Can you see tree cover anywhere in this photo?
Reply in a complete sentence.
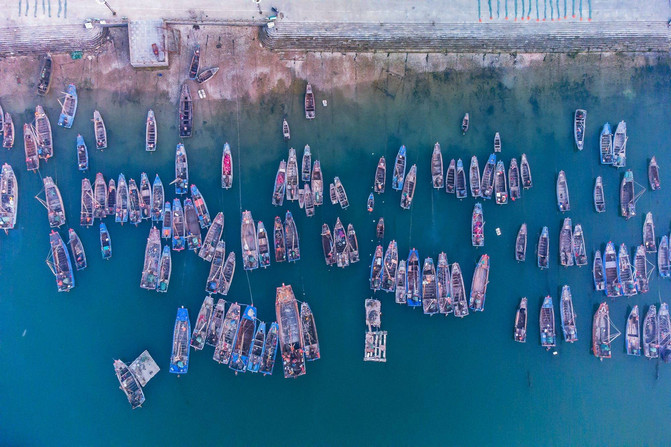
No, the picture contains no tree cover.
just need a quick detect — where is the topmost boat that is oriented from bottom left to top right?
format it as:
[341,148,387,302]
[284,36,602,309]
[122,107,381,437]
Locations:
[198,67,220,85]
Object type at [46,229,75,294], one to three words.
boat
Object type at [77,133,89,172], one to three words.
boat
